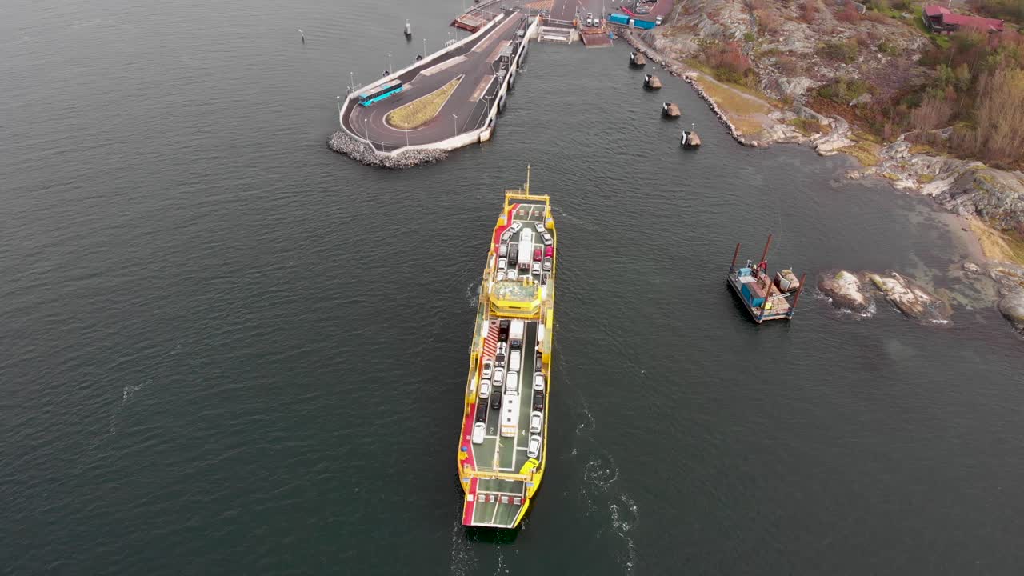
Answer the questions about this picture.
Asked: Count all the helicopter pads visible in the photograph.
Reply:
0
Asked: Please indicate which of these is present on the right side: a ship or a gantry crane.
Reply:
ship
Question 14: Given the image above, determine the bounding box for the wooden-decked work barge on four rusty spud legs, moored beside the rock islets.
[725,233,823,326]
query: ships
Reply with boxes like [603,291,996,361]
[725,233,823,326]
[456,164,556,530]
